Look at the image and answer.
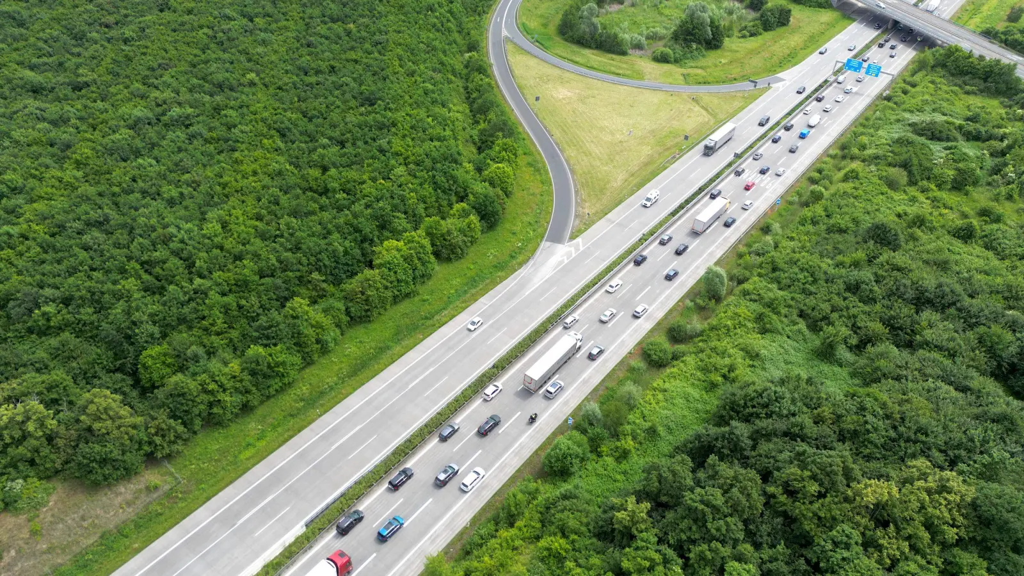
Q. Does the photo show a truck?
Yes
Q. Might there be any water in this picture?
No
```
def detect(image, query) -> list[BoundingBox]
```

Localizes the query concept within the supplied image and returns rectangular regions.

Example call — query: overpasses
[842,0,988,52]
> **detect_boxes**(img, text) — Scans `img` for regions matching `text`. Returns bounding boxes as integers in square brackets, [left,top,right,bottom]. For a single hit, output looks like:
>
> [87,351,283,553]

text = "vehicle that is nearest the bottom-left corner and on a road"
[302,548,352,576]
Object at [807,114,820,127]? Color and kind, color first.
white vehicle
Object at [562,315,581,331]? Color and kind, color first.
white car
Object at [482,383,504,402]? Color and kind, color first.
white car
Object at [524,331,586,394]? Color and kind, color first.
white truck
